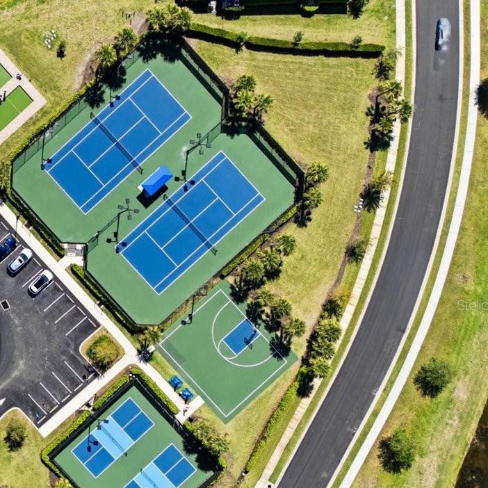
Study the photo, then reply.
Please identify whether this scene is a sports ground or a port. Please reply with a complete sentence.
The picture captures a sports ground.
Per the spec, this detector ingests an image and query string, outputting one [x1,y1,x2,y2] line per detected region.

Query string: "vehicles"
[436,20,452,48]
[0,237,16,260]
[27,270,54,295]
[7,250,33,276]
